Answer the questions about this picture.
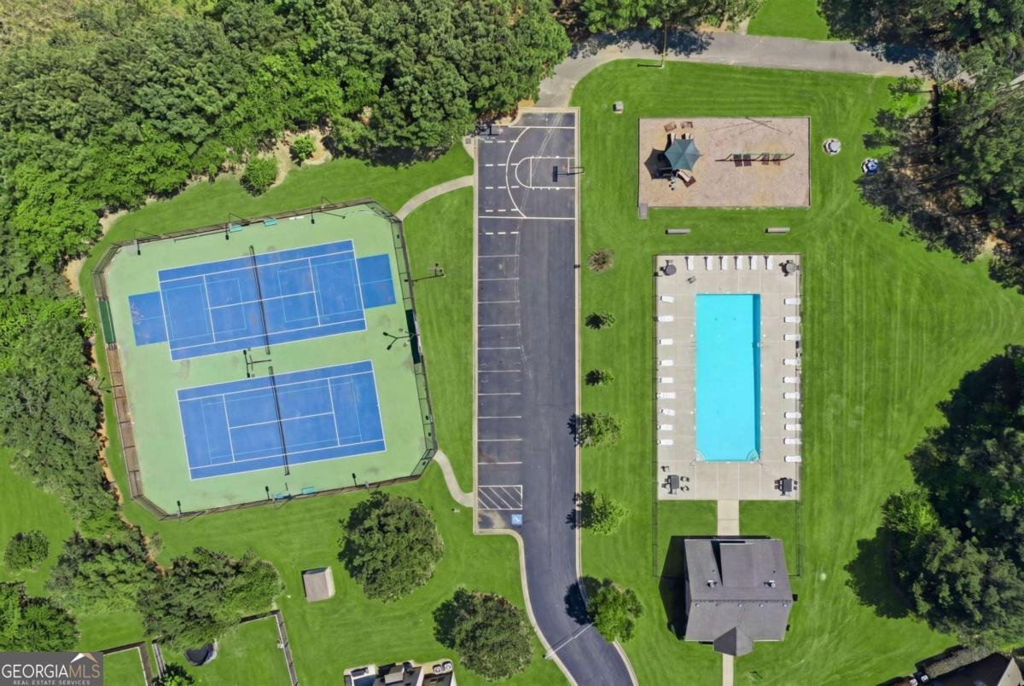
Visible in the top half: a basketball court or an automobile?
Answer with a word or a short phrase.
basketball court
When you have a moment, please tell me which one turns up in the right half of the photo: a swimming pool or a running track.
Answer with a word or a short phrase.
swimming pool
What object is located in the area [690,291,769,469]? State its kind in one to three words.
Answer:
swimming pool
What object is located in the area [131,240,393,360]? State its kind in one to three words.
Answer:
tennis court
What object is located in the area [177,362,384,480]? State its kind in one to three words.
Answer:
tennis court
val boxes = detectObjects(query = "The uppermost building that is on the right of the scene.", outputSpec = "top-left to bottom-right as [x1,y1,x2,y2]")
[682,537,795,659]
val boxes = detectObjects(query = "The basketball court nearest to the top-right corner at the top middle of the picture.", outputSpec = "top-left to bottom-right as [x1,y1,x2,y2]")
[478,113,575,218]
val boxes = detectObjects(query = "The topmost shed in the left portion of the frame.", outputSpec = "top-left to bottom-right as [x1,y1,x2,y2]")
[299,568,331,602]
